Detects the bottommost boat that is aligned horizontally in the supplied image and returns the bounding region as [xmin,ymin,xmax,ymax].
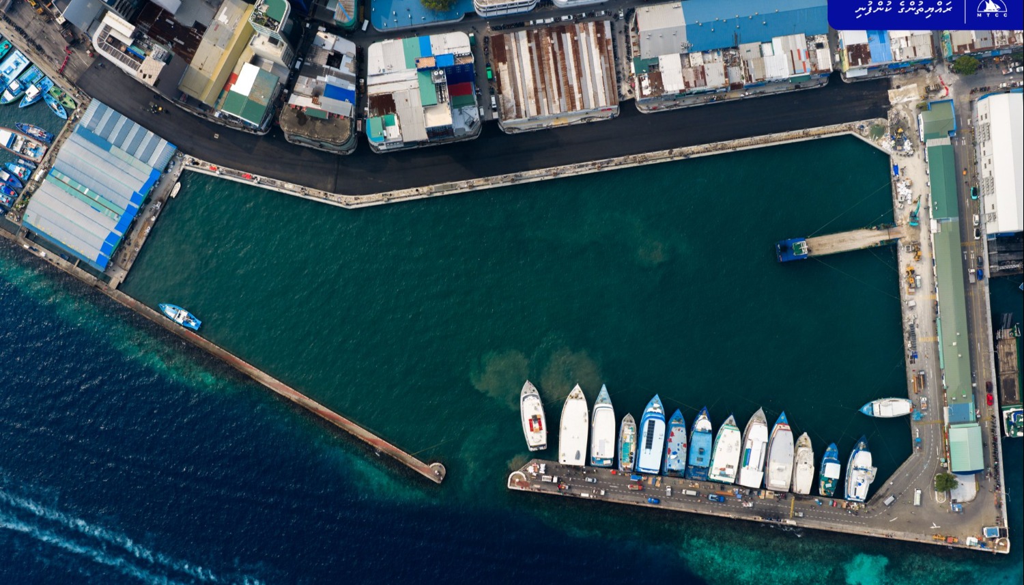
[855,397,910,418]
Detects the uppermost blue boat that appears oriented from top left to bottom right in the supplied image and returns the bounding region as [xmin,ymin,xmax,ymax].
[48,91,73,120]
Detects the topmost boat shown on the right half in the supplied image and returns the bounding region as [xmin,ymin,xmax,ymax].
[772,230,896,262]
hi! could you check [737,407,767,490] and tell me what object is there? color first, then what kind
white boat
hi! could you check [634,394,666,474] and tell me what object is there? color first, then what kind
white boat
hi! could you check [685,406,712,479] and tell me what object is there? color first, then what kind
blue boat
